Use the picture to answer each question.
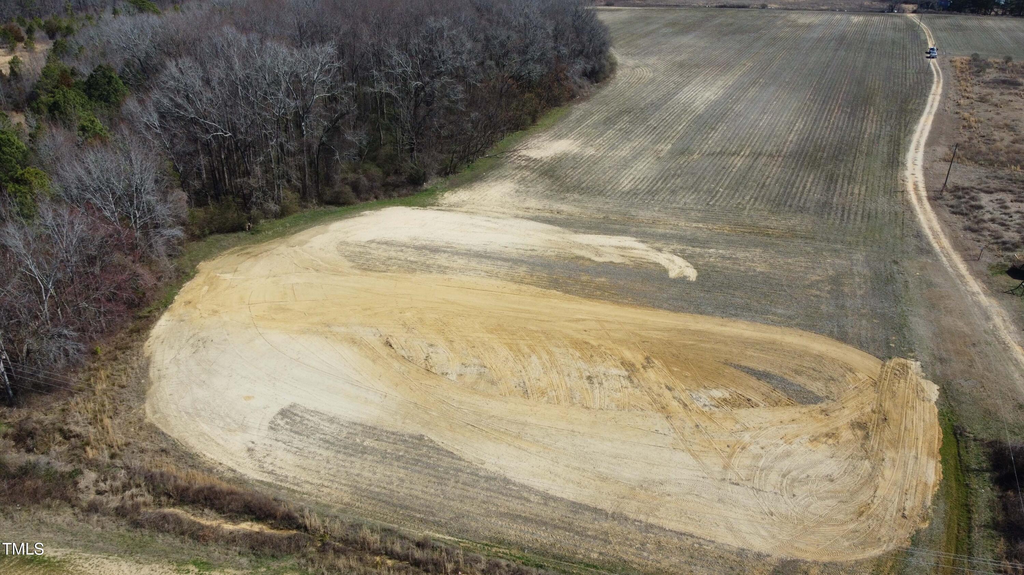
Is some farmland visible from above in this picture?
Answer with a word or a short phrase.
Yes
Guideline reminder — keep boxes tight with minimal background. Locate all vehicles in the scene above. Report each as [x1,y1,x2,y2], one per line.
[930,49,940,58]
[929,45,938,53]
